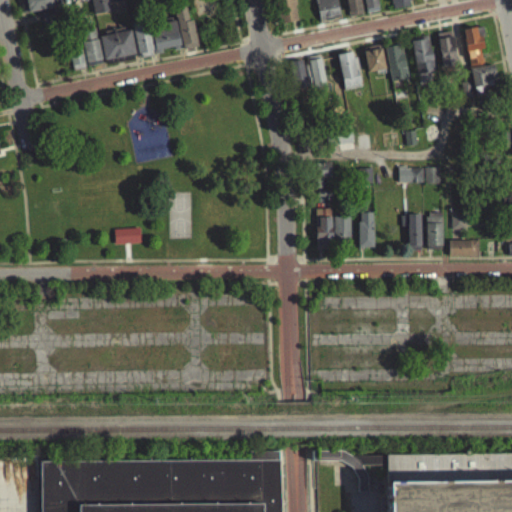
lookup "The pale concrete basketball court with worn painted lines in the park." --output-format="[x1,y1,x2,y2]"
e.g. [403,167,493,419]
[170,192,192,238]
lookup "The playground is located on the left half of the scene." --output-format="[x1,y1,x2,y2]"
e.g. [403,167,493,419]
[128,104,172,163]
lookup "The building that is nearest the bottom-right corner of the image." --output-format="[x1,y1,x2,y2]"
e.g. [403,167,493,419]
[388,455,512,512]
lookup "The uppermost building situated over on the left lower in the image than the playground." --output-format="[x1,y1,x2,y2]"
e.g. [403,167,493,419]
[114,228,142,244]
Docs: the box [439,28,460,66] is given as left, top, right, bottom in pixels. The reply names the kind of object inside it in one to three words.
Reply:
house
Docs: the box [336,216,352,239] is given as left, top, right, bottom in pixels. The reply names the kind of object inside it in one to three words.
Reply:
house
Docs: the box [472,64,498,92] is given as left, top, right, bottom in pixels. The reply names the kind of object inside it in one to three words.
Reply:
shed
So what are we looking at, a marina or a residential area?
residential area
